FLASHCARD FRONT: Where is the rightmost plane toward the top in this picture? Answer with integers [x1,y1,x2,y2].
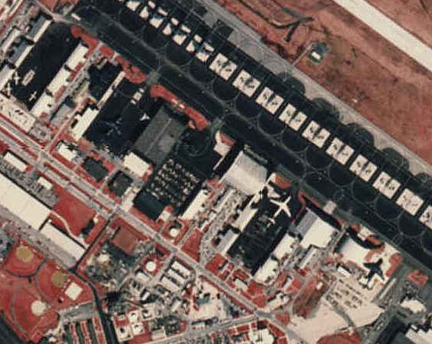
[191,35,214,61]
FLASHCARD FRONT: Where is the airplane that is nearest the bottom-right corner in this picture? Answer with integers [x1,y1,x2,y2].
[361,259,382,286]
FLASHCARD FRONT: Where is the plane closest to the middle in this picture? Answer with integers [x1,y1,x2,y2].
[267,196,289,222]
